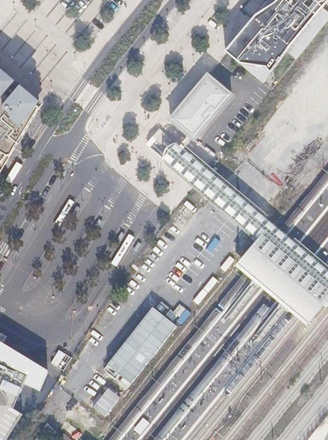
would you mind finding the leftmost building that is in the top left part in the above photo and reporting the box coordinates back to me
[0,68,44,154]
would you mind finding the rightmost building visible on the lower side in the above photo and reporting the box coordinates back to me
[234,233,328,328]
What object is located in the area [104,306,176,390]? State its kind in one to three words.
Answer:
building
